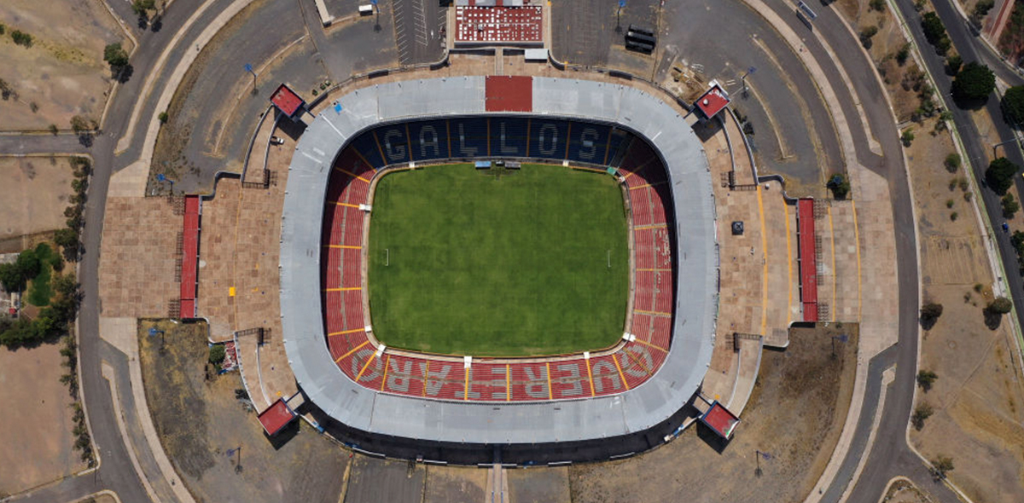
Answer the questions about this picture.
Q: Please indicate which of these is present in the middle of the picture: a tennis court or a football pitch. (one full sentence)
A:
Visible in the middle of the picture is a football pitch.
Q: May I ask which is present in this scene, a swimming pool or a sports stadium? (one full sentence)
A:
Of the two, only a sports stadium appears.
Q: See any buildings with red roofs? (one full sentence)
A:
Yes, the picture does show a building with a red roof.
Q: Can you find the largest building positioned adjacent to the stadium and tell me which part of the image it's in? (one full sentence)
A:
Look in the top portion of the view to spot the largest building positioned adjacent to the stadium.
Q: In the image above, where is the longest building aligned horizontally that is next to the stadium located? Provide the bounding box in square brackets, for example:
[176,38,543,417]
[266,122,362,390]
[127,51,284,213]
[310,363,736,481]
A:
[455,5,543,43]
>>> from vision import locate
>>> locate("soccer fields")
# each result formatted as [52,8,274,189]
[362,157,636,363]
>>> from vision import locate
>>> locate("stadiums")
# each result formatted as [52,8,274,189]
[278,74,719,444]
